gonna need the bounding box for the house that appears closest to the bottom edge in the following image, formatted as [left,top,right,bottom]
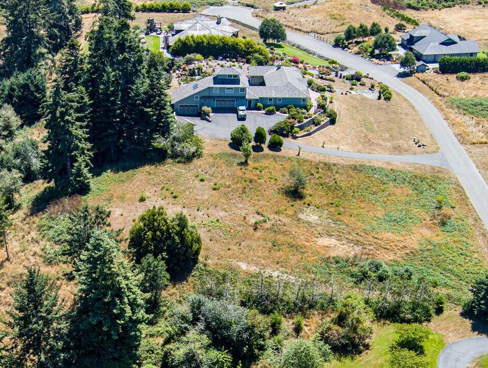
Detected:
[167,67,310,114]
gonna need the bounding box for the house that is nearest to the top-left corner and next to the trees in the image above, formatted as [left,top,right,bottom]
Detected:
[153,8,240,45]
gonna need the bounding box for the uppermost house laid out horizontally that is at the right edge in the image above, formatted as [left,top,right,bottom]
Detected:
[370,25,481,60]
